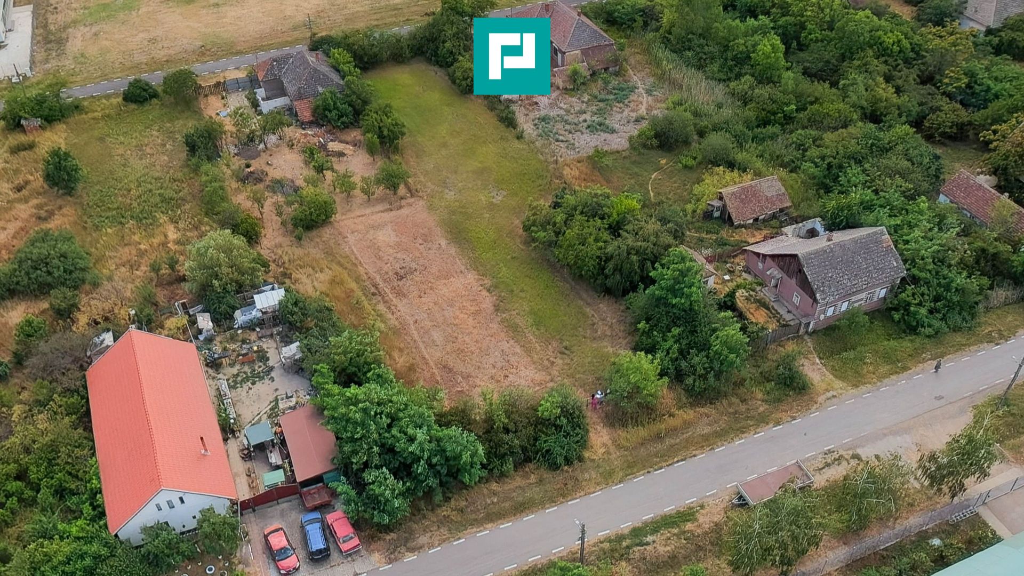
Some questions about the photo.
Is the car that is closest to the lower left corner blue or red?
red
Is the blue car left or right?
left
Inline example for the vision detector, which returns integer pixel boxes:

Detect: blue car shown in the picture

[298,509,329,563]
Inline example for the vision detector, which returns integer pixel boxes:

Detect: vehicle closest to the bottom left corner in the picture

[262,523,302,576]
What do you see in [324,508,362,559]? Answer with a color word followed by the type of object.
red car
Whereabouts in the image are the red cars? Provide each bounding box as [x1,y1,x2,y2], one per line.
[262,523,302,576]
[324,508,362,559]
